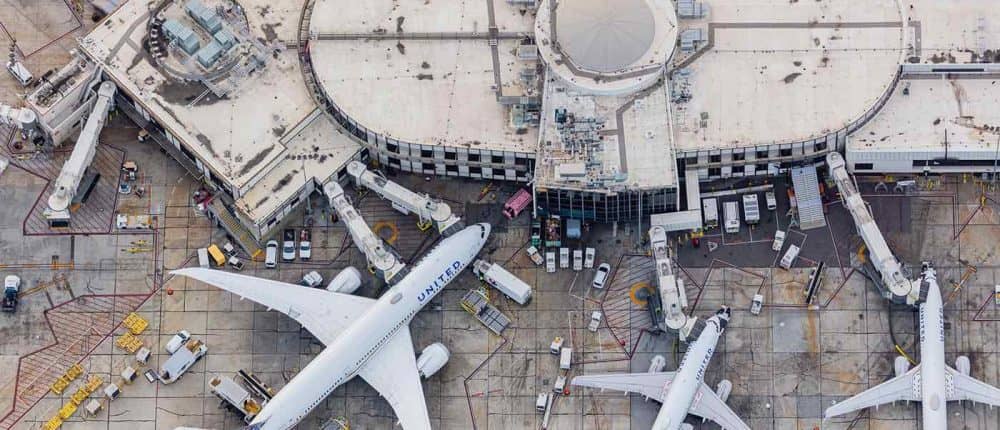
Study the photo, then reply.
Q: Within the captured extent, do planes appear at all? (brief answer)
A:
Yes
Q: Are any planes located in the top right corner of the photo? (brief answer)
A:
No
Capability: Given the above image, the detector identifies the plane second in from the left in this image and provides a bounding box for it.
[567,316,742,430]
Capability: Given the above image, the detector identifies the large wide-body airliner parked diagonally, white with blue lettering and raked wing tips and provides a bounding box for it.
[165,223,491,430]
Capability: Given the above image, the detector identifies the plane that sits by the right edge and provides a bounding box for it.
[823,277,1000,430]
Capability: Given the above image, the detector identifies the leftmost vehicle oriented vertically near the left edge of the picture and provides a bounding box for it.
[3,276,20,310]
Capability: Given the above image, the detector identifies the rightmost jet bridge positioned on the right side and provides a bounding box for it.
[824,151,927,308]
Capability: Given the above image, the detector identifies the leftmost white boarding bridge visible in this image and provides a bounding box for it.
[0,104,39,141]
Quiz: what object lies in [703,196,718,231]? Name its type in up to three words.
vehicle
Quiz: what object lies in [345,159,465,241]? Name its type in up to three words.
jet bridge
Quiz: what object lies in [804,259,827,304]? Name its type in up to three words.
work vehicle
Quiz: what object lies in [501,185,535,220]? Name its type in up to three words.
truck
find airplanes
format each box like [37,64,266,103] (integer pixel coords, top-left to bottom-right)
[165,223,491,430]
[823,277,1000,430]
[567,316,742,430]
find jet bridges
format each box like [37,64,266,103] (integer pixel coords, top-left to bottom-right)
[47,82,117,235]
[322,179,410,289]
[345,159,465,241]
[648,226,708,344]
[824,151,927,308]
[0,104,39,141]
